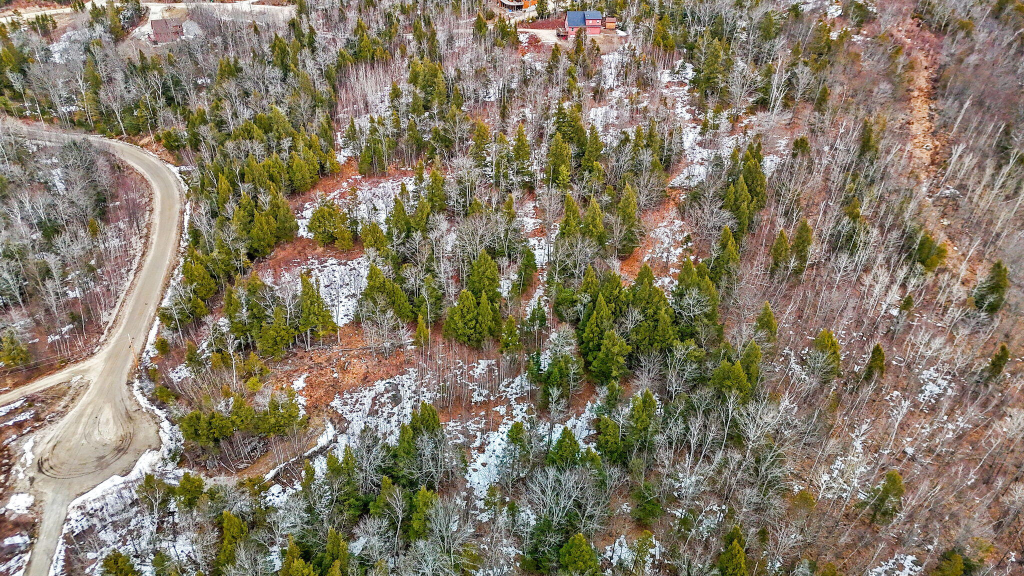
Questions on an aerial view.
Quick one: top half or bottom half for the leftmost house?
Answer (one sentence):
The leftmost house is in the top half of the image.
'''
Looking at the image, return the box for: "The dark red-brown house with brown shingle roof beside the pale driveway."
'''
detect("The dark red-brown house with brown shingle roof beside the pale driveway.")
[135,12,195,43]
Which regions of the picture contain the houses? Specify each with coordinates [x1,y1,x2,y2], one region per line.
[499,0,536,12]
[552,12,601,39]
[135,12,195,43]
